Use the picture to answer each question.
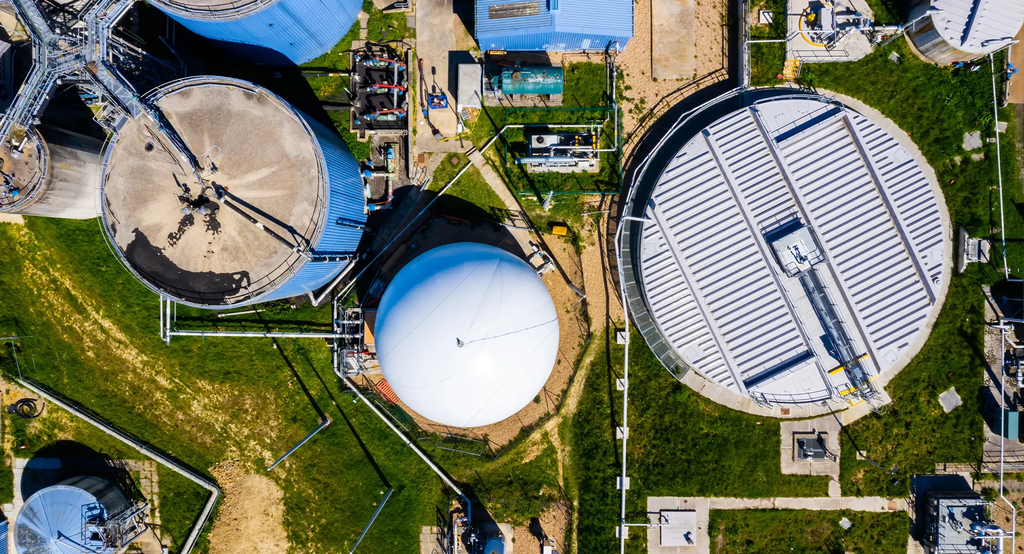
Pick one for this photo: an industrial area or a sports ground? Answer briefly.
industrial area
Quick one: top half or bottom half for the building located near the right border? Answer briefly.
bottom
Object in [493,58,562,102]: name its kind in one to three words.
storage tank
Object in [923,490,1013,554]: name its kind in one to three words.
building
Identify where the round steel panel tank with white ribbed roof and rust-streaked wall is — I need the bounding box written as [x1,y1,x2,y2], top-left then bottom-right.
[902,0,1024,68]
